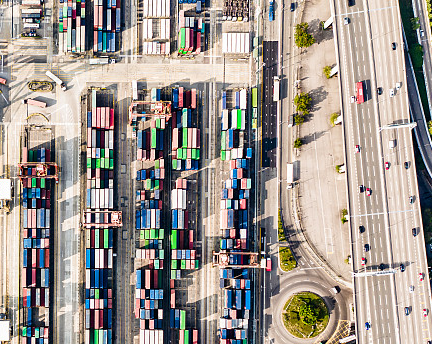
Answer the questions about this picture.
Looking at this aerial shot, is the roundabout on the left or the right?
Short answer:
right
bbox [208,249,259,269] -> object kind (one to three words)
container crane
